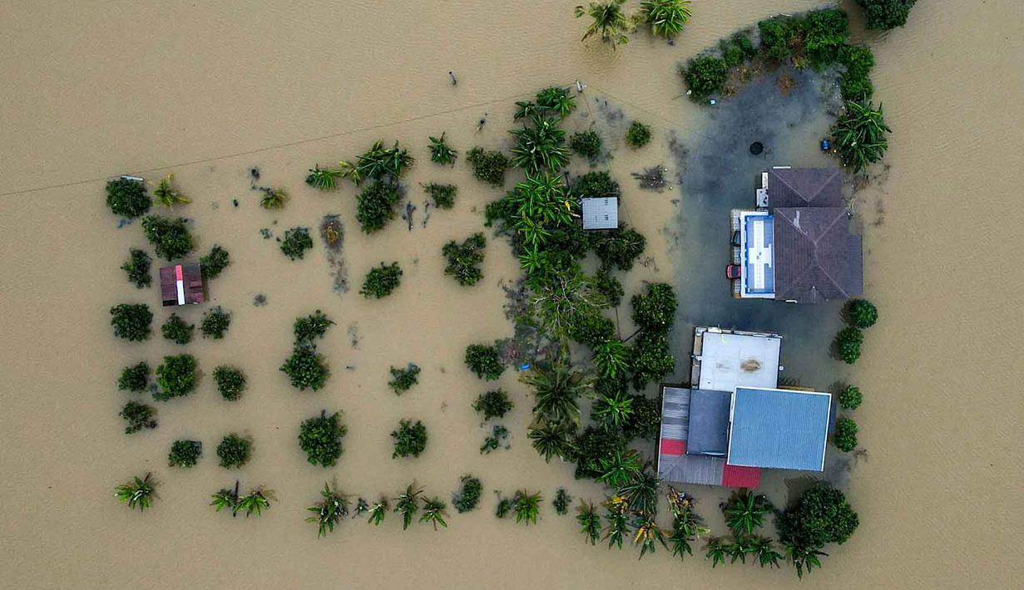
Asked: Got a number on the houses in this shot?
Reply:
2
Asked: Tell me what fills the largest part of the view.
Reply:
water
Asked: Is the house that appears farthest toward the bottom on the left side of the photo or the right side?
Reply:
right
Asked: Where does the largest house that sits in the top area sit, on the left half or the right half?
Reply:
right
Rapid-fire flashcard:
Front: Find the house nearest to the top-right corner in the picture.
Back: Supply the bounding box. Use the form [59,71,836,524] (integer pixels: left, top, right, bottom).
[731,166,864,304]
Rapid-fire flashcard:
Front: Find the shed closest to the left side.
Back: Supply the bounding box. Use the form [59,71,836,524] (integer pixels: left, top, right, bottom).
[160,263,205,306]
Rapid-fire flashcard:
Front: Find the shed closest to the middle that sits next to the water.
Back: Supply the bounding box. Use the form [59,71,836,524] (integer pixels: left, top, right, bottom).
[582,196,618,230]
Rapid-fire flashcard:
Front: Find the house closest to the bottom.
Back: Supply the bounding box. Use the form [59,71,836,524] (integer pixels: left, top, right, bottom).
[653,325,837,489]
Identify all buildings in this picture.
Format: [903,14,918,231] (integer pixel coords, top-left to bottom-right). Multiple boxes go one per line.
[582,196,618,230]
[653,325,837,489]
[731,166,864,304]
[160,263,205,306]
